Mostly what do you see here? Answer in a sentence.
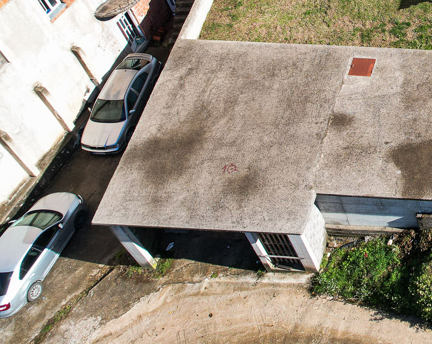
Most of the picture is covered by buildings.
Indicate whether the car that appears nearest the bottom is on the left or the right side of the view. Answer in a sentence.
The car that appears nearest the bottom sits on the left side.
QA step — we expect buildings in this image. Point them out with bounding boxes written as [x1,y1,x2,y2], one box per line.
[0,0,177,233]
[93,39,432,280]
